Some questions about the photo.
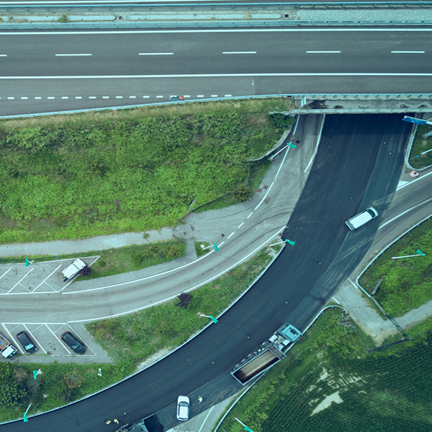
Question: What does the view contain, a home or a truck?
truck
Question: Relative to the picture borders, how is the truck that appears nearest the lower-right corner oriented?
at an angle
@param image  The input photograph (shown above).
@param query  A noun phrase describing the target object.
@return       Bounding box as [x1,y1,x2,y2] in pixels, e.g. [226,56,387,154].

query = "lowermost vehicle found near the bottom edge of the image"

[176,394,190,420]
